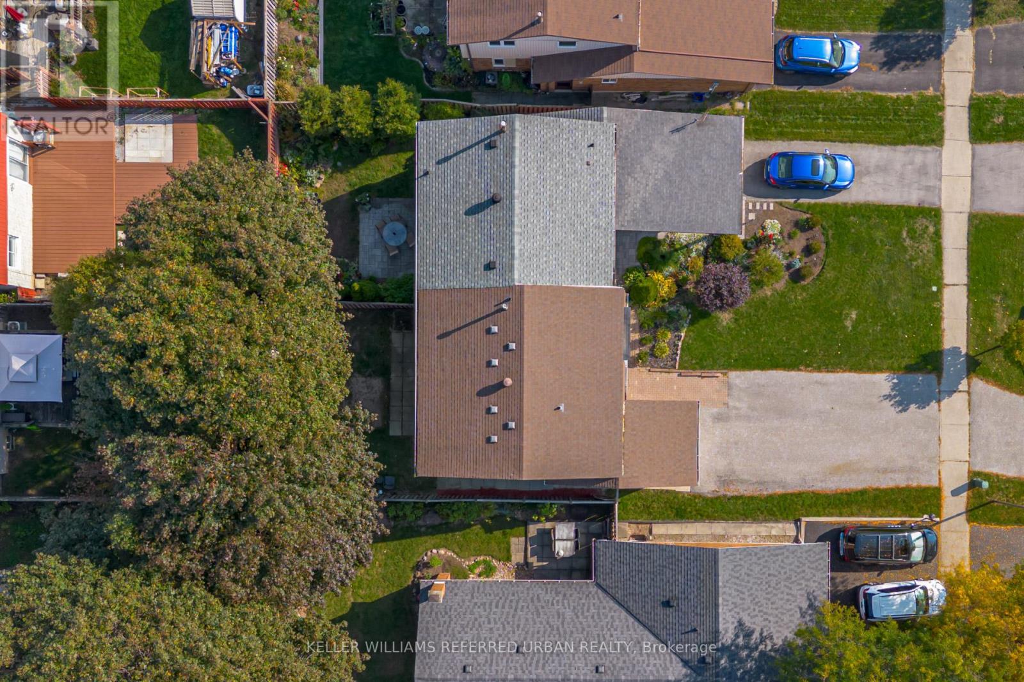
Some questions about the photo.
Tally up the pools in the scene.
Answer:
zero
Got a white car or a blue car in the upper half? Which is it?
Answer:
blue car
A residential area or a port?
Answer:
residential area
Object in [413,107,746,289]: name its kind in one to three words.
house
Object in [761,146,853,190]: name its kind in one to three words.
car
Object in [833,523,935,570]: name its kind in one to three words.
car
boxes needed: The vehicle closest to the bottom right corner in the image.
[858,577,949,624]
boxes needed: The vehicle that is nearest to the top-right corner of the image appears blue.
[773,29,857,78]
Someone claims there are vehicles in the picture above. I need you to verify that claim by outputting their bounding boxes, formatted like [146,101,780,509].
[761,146,853,190]
[858,577,949,624]
[833,523,935,570]
[773,29,857,78]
